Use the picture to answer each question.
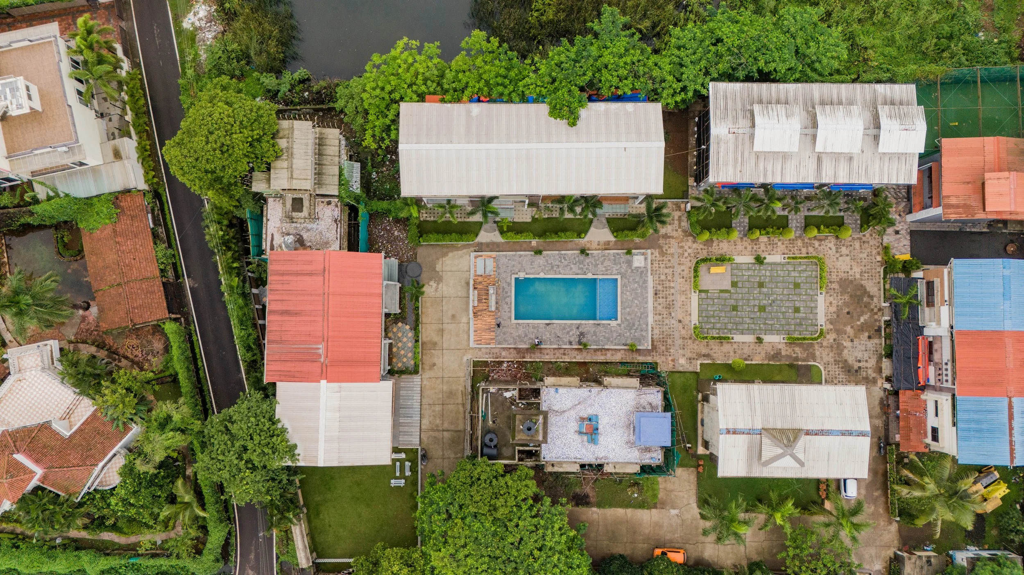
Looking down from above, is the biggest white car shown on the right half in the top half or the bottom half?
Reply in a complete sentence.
You can find the biggest white car shown on the right half in the bottom half.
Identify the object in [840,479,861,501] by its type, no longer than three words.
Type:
car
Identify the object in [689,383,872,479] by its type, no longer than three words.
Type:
house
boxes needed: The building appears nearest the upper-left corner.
[0,22,158,198]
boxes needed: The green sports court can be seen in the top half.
[903,64,1024,147]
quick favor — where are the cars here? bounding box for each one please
[654,548,689,567]
[840,479,861,501]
